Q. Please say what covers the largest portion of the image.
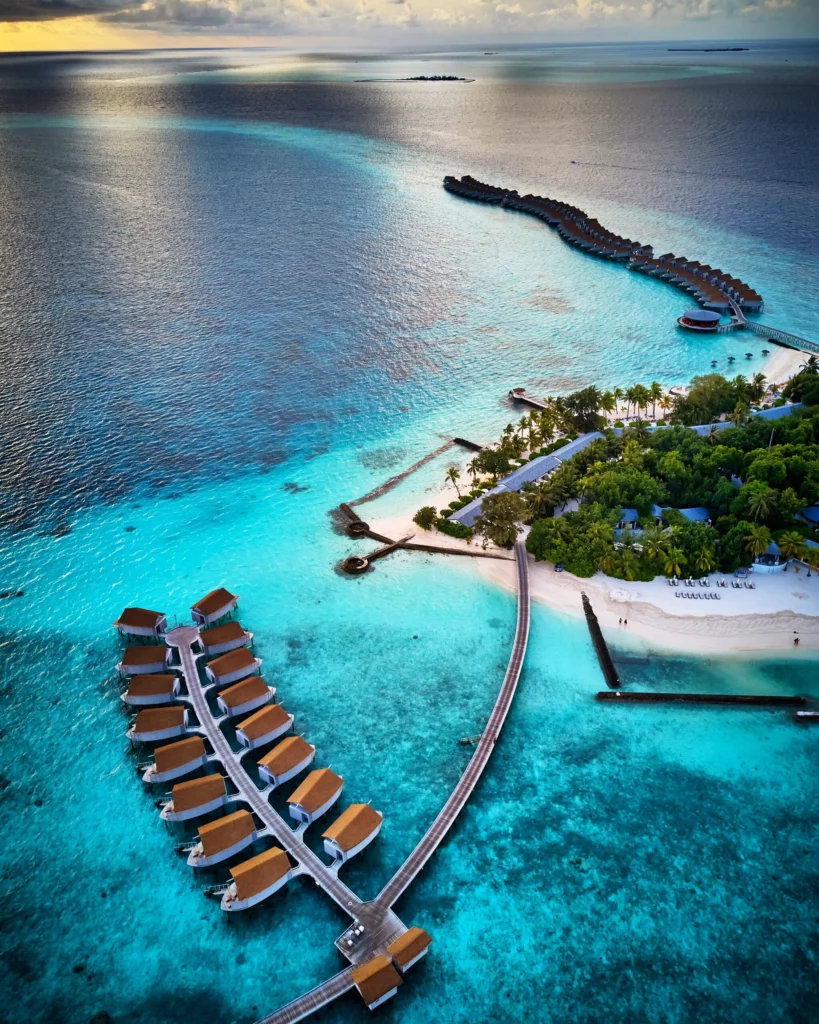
water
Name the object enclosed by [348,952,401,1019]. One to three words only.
shed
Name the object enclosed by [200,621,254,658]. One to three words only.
house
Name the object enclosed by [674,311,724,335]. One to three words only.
building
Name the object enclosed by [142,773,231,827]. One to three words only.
house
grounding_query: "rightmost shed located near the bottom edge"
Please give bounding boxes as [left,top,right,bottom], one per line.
[383,925,434,987]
